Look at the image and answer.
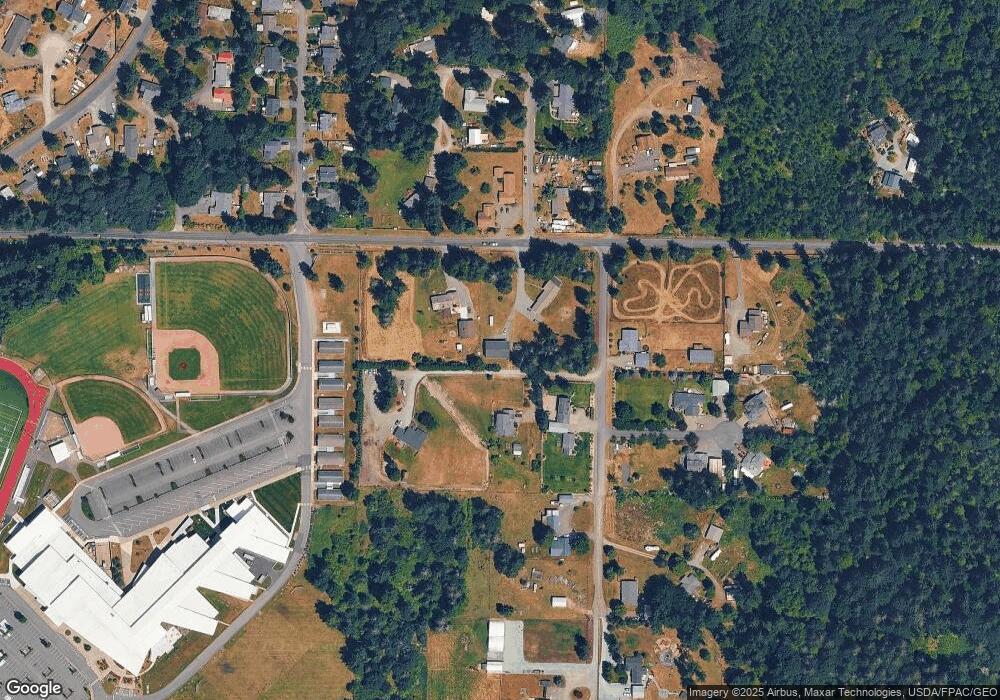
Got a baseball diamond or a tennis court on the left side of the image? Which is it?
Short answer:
baseball diamond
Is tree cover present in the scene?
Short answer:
Yes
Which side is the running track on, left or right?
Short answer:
left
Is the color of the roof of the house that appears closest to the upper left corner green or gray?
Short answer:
gray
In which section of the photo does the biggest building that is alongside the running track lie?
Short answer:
bottom left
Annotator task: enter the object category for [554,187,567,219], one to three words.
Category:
house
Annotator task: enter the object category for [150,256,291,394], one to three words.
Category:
baseball field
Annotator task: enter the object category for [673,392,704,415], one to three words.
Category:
house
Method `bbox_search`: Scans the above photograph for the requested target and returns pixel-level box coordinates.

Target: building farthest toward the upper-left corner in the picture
[0,15,30,55]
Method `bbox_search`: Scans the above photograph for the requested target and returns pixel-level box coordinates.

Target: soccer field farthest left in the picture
[0,369,29,490]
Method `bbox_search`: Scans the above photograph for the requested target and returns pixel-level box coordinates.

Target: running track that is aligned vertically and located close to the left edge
[0,356,49,522]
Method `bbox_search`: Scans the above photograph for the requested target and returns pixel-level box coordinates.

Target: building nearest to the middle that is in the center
[485,339,508,357]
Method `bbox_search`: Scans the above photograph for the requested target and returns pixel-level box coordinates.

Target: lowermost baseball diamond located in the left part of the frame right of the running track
[57,375,166,462]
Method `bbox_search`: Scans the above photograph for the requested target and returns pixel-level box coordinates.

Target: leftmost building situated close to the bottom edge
[4,498,293,676]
